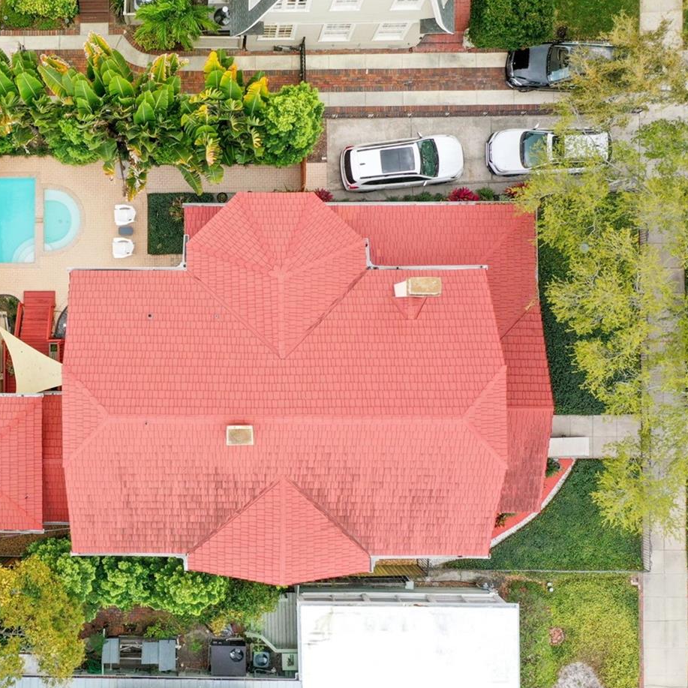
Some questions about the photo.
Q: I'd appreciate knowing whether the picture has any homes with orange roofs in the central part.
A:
No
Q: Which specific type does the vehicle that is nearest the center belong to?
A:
car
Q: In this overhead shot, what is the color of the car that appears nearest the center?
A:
white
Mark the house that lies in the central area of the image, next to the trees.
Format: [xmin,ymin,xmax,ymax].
[39,190,588,585]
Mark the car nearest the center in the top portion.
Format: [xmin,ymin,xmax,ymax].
[340,128,464,193]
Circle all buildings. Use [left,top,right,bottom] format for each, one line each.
[39,190,588,585]
[233,0,458,49]
[0,585,525,688]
